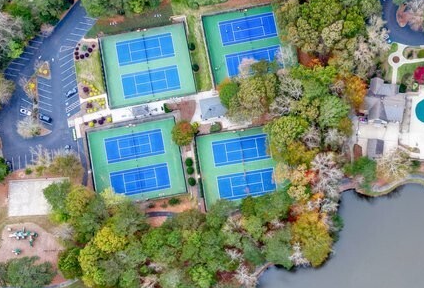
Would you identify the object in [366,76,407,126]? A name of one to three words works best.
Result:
building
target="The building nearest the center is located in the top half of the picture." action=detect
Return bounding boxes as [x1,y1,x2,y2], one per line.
[199,98,227,121]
